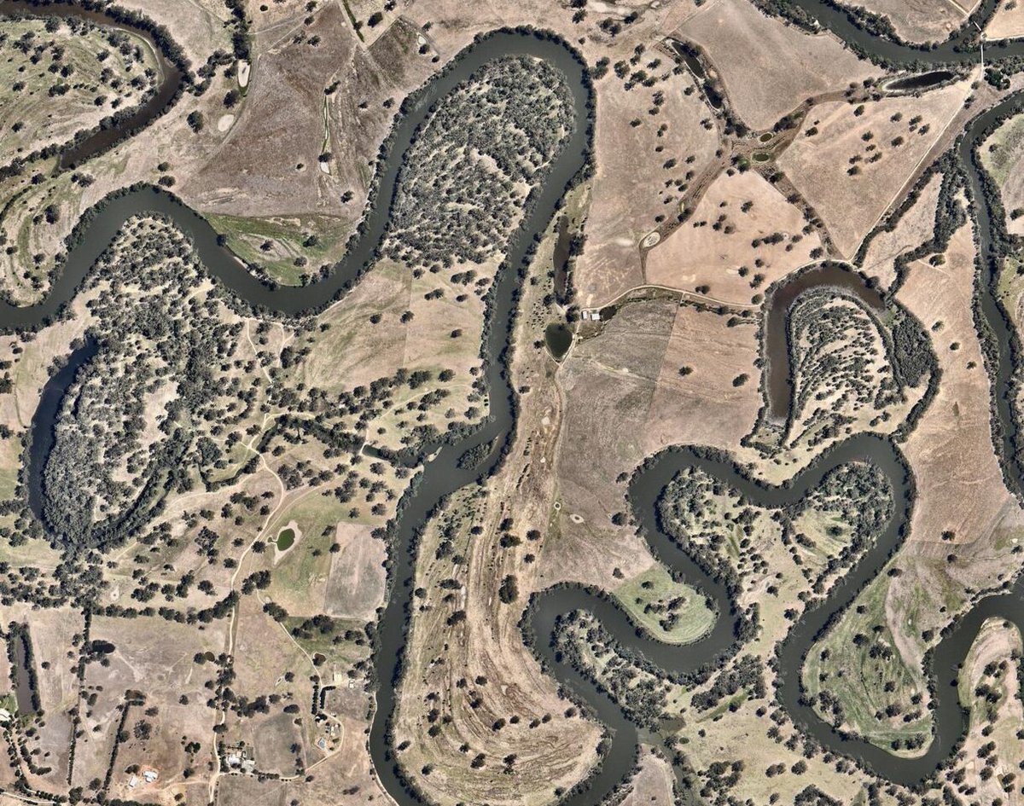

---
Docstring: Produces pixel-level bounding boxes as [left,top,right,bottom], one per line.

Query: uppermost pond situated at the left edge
[28,338,97,541]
